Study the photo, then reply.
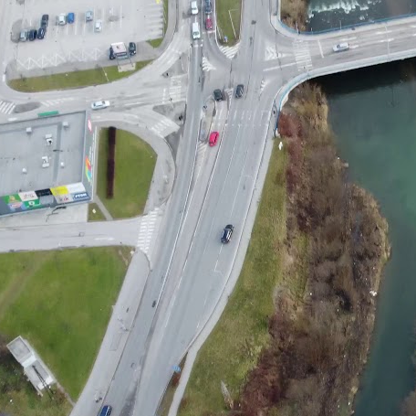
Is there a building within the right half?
No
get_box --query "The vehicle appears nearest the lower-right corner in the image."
[222,225,234,243]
